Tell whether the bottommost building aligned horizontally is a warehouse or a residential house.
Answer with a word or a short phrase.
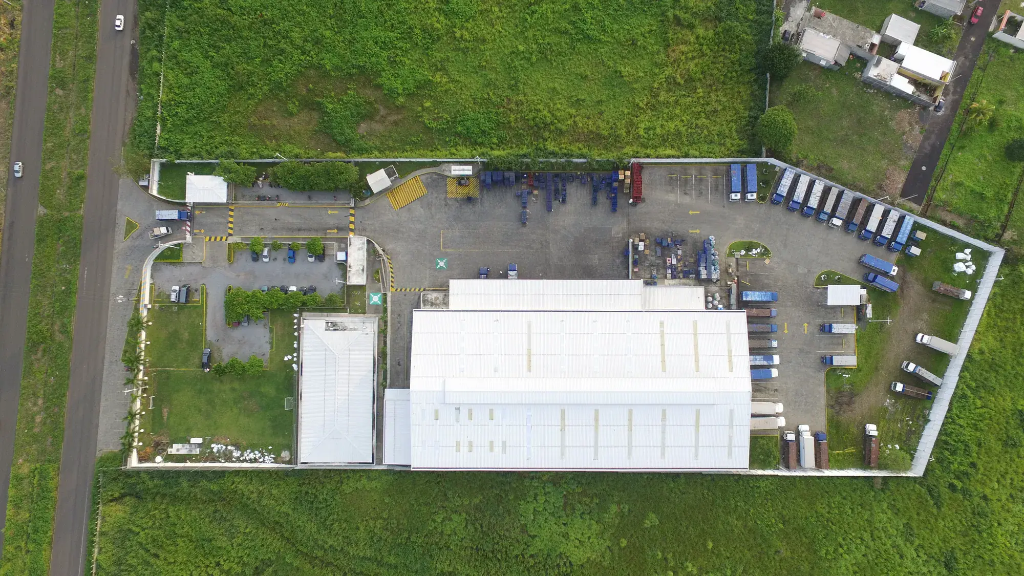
warehouse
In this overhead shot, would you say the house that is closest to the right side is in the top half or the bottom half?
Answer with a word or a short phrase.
top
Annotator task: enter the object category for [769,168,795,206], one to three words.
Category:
truck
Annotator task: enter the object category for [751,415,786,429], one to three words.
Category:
vehicle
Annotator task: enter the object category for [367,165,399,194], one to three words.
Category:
building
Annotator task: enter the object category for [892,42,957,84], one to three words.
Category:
house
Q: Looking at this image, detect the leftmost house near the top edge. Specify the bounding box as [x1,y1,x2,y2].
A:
[793,28,851,73]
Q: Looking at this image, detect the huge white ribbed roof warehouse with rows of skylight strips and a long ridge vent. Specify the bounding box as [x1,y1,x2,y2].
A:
[410,309,752,471]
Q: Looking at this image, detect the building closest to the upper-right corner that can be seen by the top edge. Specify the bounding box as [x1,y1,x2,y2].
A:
[992,11,1024,51]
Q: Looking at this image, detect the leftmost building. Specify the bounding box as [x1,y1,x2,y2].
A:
[186,172,230,203]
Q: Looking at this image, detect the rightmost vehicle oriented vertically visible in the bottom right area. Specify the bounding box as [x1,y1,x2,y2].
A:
[864,423,879,466]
